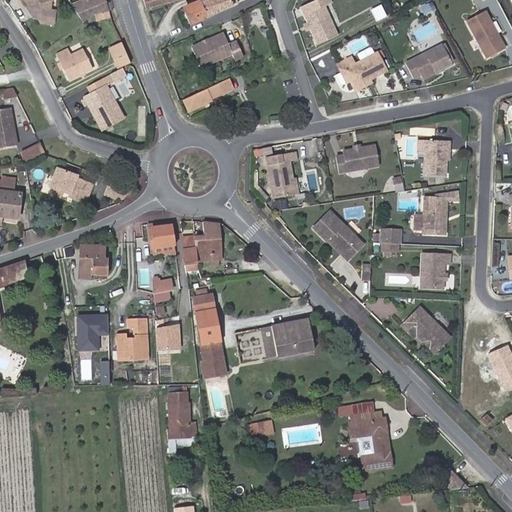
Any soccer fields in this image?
No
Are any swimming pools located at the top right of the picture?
Yes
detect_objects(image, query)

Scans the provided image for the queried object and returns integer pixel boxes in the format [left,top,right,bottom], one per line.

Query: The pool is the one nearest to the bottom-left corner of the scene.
[0,345,26,384]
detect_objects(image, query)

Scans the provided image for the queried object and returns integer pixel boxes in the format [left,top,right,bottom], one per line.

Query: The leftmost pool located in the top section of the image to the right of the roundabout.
[301,169,320,195]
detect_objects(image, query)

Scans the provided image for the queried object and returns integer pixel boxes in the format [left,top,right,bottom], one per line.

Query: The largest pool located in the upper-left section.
[112,78,131,101]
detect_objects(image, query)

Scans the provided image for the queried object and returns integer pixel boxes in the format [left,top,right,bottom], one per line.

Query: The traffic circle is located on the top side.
[149,128,238,216]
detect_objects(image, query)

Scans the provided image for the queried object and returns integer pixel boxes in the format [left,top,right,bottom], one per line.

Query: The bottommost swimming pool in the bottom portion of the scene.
[282,423,322,449]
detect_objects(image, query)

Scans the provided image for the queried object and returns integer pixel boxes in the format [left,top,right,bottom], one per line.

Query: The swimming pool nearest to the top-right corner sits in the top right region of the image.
[408,2,444,50]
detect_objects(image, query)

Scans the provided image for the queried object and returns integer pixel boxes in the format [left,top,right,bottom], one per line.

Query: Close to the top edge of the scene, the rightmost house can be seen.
[466,10,506,58]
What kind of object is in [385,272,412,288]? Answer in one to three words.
swimming pool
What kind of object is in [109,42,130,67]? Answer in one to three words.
building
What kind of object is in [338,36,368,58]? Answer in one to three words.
swimming pool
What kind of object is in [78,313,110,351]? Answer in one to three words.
house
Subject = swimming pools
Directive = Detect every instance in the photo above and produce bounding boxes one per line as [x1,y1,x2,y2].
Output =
[500,281,512,293]
[385,272,412,288]
[338,36,368,58]
[205,376,234,416]
[301,169,320,195]
[32,168,44,180]
[408,2,444,50]
[397,191,420,212]
[0,345,26,384]
[112,78,131,101]
[140,268,149,286]
[343,206,366,221]
[282,423,322,449]
[503,102,512,124]
[398,135,418,160]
